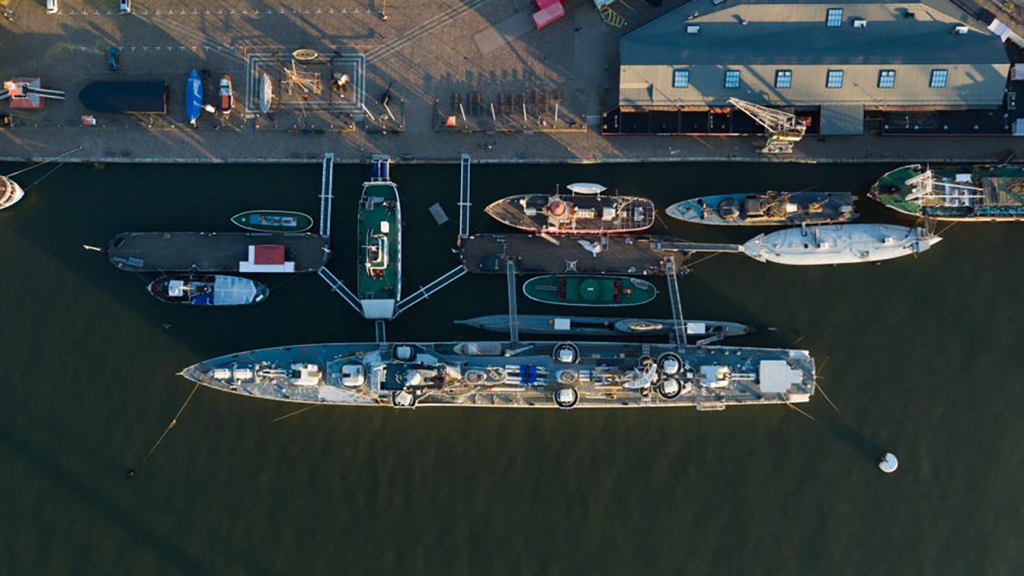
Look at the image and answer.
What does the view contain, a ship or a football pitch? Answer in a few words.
ship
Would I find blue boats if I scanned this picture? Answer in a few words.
Yes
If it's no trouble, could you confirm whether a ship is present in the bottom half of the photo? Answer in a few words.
Yes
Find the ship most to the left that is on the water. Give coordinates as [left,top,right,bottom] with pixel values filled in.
[0,178,23,215]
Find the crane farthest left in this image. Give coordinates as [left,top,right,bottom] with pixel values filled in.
[0,78,66,115]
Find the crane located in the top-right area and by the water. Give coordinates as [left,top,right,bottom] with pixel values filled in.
[715,95,812,155]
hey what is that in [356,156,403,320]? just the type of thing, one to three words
ship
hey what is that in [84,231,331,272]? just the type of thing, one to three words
ship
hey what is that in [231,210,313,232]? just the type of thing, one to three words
boat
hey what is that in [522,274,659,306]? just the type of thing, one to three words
vessel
